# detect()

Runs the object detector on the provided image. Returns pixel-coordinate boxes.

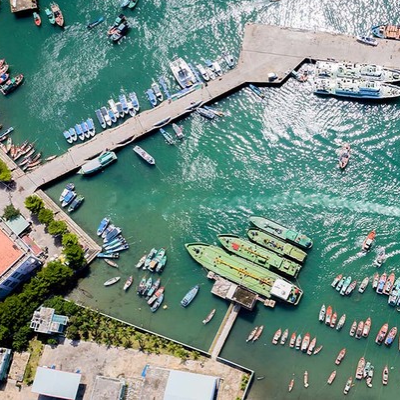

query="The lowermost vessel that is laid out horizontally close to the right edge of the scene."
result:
[312,79,400,99]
